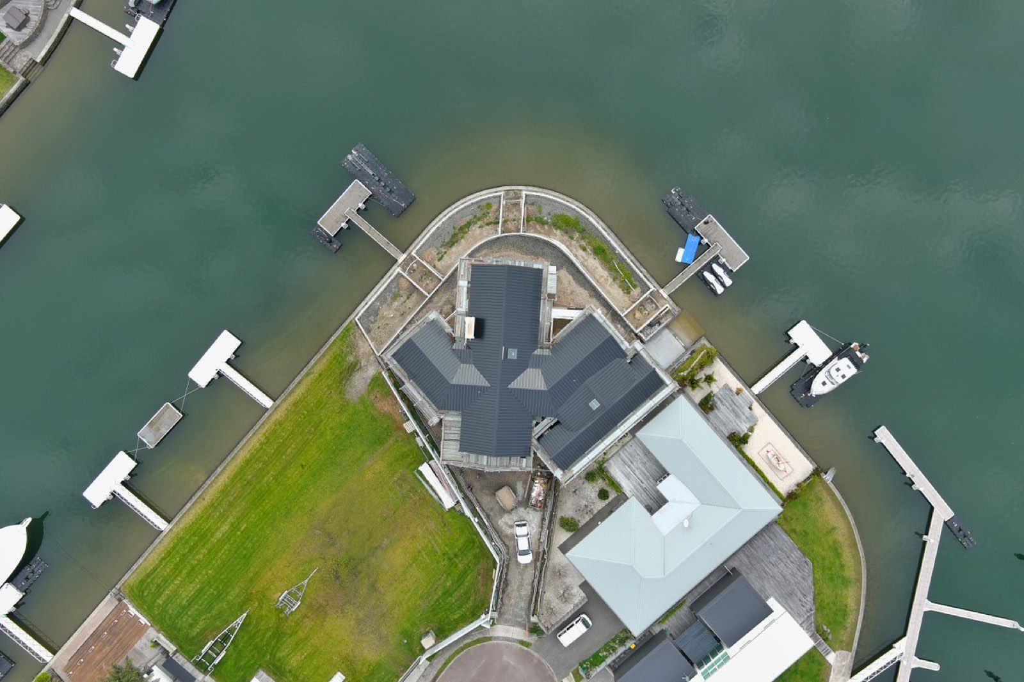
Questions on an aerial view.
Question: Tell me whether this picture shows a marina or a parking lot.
marina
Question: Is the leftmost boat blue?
No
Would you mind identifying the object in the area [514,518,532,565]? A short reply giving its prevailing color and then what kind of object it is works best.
white vehicle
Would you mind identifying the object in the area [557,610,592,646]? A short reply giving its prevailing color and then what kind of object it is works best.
white van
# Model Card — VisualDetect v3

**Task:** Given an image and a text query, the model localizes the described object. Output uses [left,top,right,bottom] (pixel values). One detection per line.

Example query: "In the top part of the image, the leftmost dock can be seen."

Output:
[0,204,23,245]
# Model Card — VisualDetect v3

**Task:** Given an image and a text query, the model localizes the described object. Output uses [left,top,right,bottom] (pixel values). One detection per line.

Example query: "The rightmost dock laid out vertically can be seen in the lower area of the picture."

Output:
[892,507,945,682]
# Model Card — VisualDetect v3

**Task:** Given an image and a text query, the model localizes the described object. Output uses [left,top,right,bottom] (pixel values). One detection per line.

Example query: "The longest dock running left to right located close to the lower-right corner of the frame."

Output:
[923,599,1017,629]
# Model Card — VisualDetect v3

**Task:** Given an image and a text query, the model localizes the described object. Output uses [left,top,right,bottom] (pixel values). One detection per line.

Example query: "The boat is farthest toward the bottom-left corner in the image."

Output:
[0,520,40,587]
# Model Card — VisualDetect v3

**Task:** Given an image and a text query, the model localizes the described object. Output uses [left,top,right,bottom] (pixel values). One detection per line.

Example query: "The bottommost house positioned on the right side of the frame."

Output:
[599,567,814,682]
